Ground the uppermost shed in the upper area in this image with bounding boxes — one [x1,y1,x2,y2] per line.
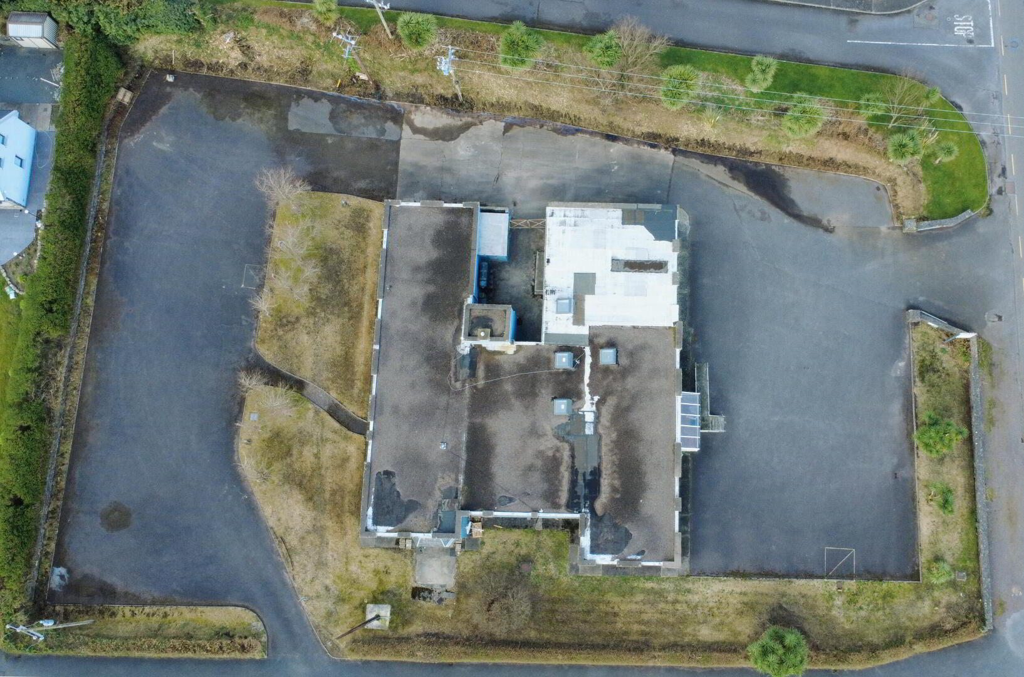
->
[1,12,62,49]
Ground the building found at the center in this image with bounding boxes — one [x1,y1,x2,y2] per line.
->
[360,201,701,567]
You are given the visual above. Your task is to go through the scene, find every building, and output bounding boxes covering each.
[0,113,36,211]
[1,12,62,49]
[360,201,701,567]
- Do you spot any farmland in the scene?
No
